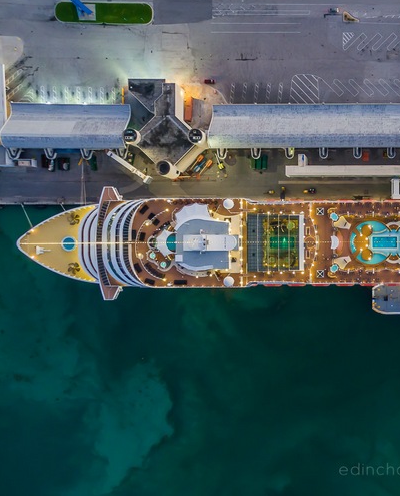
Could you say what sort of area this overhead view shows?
port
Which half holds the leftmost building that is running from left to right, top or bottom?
top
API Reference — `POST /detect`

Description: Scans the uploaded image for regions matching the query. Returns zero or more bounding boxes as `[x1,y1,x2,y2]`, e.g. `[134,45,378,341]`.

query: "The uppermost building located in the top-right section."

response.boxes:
[209,102,400,161]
